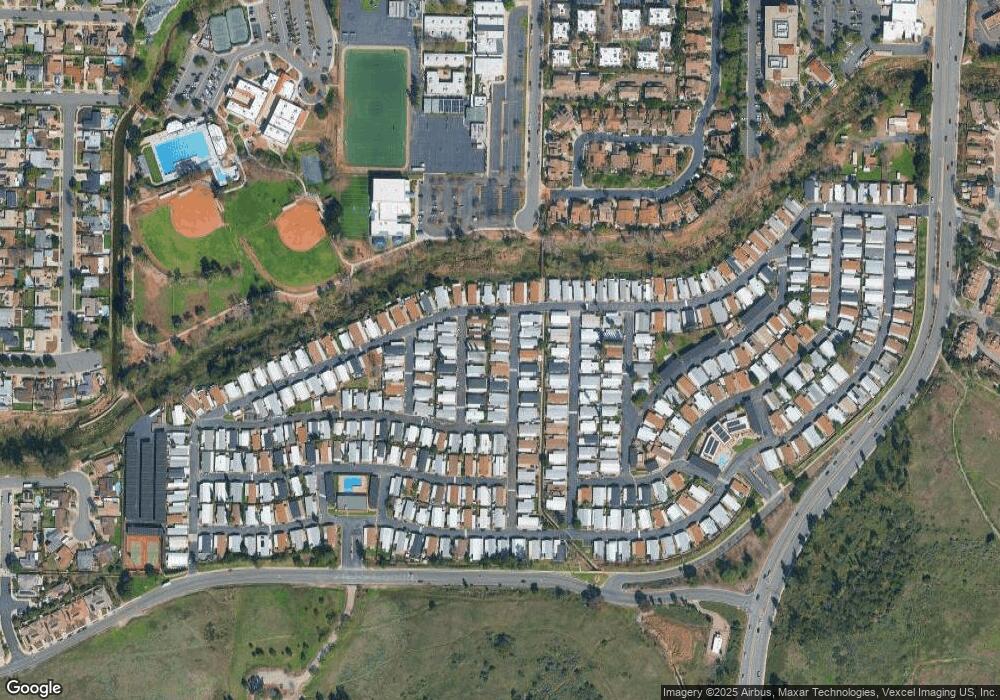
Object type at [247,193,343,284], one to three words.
baseball field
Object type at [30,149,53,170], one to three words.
house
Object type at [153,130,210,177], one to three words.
swimming pool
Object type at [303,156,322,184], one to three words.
basketball court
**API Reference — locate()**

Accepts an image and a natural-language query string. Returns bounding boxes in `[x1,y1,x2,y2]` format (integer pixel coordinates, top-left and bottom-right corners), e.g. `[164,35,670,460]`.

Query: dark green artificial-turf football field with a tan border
[341,47,410,170]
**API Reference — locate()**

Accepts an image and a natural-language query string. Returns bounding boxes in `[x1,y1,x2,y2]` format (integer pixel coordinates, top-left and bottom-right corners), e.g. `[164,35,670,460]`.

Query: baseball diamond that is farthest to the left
[141,180,246,276]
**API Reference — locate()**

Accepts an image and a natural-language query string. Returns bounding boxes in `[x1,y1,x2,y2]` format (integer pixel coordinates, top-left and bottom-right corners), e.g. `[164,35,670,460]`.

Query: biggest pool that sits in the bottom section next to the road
[344,476,362,492]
